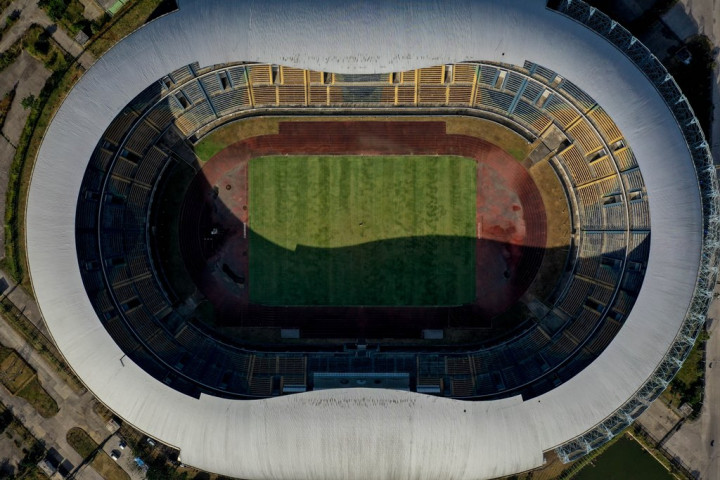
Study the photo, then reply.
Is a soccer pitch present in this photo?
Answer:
Yes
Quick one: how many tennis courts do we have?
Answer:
0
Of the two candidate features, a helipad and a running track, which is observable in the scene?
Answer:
running track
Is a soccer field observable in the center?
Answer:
Yes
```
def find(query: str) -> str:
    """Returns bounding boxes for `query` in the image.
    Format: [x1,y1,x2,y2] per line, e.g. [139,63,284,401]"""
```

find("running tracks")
[179,122,546,335]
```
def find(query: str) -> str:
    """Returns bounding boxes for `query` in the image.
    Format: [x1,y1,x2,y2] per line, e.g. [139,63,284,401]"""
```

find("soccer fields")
[248,155,476,305]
